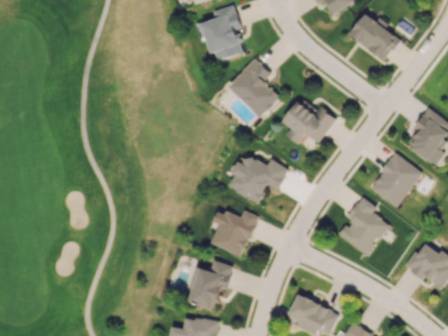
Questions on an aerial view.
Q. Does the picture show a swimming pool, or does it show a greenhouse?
swimming pool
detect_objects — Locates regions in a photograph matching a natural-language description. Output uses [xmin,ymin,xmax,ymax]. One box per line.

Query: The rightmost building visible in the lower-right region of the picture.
[407,244,448,288]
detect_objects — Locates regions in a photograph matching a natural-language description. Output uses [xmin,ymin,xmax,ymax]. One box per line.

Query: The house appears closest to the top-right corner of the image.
[350,14,400,63]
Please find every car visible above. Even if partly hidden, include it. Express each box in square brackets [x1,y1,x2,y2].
[381,145,393,154]
[418,42,430,55]
[240,3,252,10]
[374,154,384,165]
[330,290,338,303]
[260,51,272,62]
[293,170,305,179]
